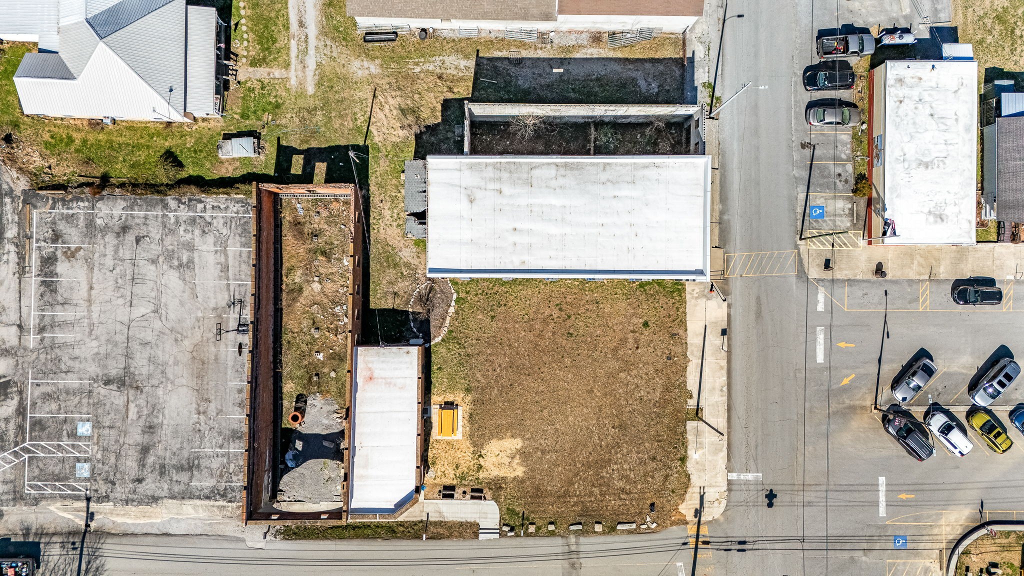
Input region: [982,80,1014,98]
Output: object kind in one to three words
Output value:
shed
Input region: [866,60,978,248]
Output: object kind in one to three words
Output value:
building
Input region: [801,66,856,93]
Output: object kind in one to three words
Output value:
car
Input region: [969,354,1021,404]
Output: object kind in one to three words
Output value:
car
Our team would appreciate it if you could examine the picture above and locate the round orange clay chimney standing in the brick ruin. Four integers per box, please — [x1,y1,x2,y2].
[286,409,306,426]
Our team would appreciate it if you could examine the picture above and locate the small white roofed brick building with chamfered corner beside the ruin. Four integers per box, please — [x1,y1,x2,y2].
[351,344,426,519]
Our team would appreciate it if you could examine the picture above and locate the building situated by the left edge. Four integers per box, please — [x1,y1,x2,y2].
[0,0,235,132]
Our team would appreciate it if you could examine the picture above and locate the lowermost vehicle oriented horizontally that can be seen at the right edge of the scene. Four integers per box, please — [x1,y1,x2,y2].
[947,284,1002,309]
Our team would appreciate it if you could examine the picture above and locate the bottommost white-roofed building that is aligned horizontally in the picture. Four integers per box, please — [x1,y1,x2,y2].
[426,155,711,281]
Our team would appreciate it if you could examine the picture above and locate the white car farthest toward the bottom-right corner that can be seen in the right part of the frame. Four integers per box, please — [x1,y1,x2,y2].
[920,407,972,458]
